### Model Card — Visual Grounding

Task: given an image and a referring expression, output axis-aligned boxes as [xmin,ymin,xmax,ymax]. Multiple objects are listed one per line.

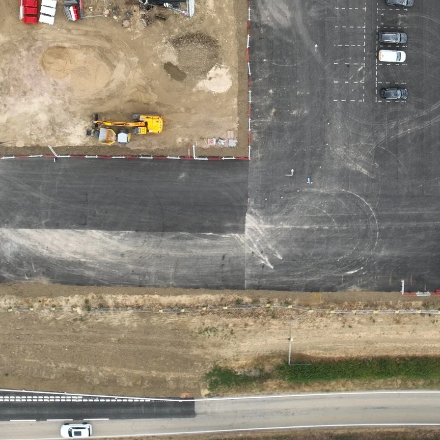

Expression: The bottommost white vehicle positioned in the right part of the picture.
[378,50,405,64]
